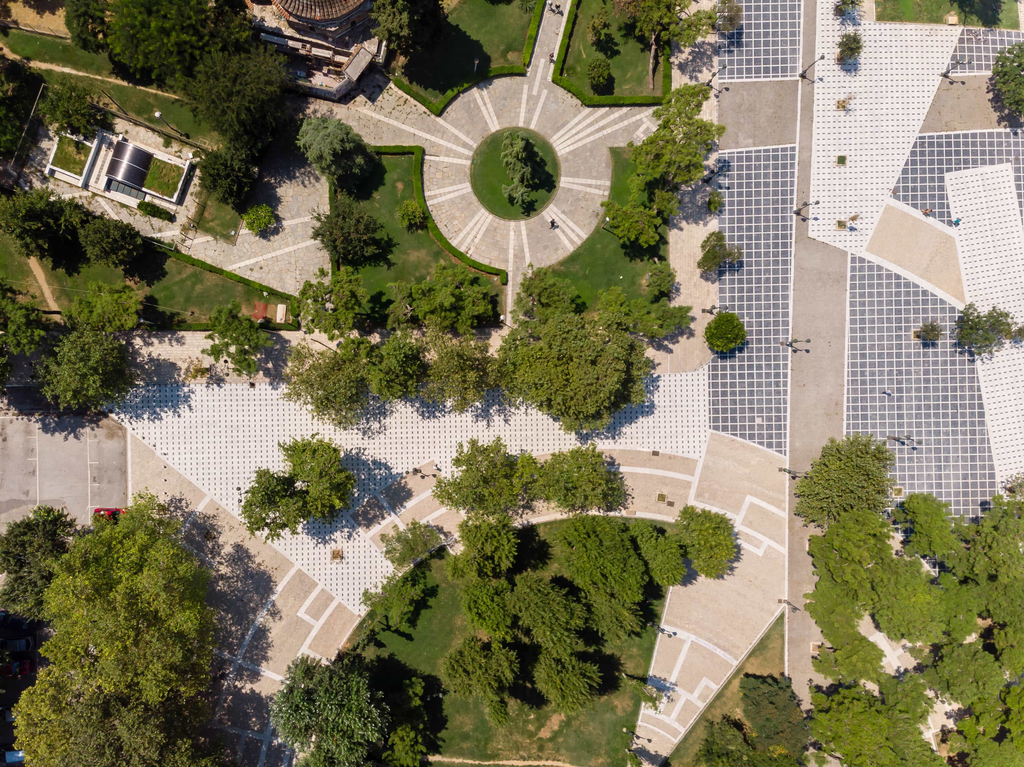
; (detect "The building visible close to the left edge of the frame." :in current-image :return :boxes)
[43,130,197,211]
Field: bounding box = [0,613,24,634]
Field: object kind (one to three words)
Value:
car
